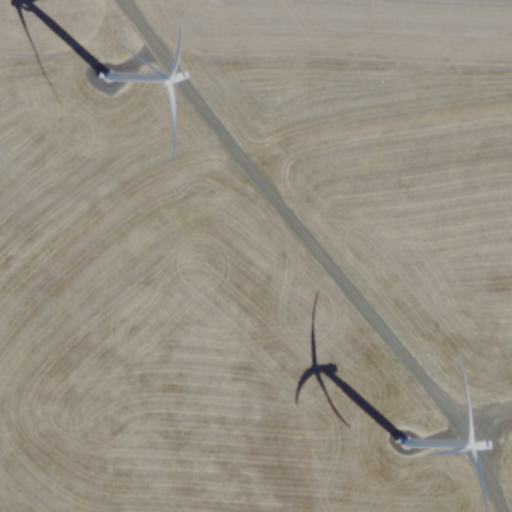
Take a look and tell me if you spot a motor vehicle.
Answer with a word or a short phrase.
No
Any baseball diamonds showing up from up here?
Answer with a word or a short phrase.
No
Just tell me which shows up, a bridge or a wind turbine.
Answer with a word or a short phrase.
wind turbine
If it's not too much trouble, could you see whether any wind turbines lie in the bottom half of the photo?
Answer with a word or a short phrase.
Yes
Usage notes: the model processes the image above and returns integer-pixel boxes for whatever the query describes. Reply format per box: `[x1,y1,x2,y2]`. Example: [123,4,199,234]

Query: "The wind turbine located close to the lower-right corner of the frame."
[400,356,491,512]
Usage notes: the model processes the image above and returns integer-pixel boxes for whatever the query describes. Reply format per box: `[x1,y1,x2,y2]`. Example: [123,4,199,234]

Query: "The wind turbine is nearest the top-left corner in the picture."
[102,21,190,159]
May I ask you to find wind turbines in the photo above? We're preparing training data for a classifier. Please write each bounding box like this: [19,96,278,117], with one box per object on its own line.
[400,356,491,512]
[102,21,190,159]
